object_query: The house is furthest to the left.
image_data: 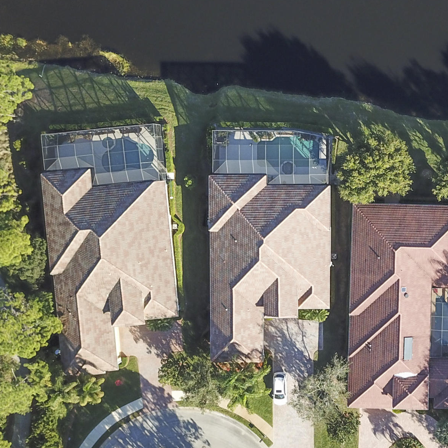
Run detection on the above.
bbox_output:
[38,169,181,377]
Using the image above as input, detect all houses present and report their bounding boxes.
[347,203,448,411]
[38,169,181,377]
[207,175,332,364]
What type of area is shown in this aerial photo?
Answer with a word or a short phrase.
residential area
